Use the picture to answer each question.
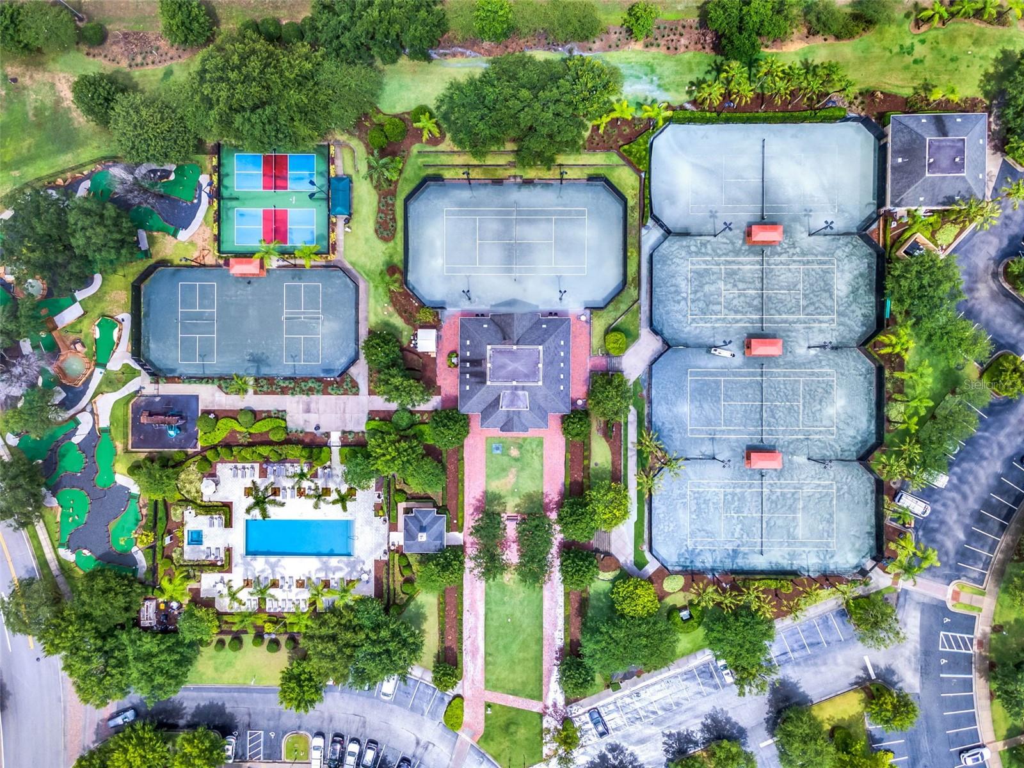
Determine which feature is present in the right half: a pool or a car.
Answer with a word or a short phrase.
car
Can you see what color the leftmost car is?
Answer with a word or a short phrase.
blue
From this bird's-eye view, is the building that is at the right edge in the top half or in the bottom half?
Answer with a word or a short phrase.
top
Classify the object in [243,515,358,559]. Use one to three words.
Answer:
swimming pool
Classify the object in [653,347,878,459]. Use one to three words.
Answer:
tennis court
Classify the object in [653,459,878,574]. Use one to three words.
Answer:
tennis court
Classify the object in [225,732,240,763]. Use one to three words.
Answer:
car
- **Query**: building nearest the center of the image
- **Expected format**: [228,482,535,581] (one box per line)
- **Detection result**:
[459,314,571,432]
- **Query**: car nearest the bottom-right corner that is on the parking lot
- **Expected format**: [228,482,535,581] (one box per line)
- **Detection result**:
[957,745,989,765]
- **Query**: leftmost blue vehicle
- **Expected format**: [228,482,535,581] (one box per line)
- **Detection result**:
[107,705,139,728]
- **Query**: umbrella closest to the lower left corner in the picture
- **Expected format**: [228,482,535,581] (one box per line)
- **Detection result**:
[202,480,216,495]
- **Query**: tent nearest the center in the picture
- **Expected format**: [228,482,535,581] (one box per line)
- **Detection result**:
[417,329,438,352]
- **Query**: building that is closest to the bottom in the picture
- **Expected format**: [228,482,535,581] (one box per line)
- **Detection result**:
[403,508,447,553]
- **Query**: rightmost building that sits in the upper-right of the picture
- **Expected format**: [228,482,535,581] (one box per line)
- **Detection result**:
[883,113,988,209]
